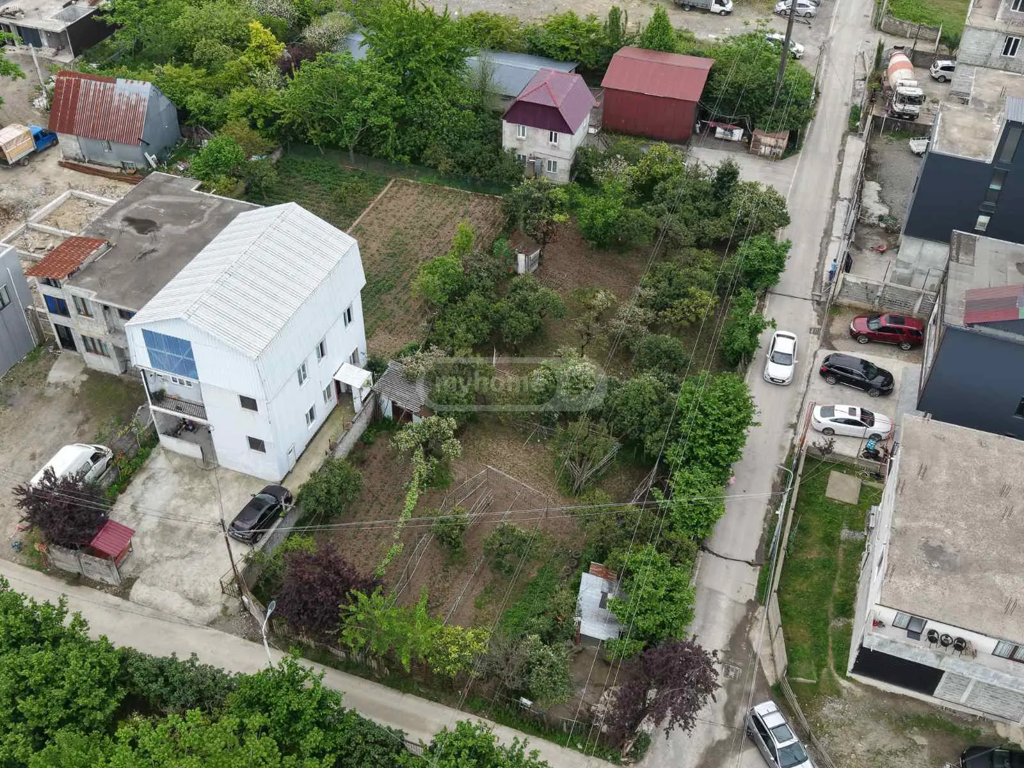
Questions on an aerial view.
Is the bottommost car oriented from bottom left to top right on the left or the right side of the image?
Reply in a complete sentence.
You can find the bottommost car oriented from bottom left to top right on the left side of the picture.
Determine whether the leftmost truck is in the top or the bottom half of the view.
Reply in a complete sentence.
The leftmost truck is in the top half of the image.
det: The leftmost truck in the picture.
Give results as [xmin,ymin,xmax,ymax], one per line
[0,118,56,166]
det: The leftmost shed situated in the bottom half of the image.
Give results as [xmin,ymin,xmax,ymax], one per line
[80,516,133,569]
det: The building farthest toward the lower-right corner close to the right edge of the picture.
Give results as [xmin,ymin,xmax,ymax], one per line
[837,413,1024,736]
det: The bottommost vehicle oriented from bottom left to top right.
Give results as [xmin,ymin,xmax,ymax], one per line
[220,479,295,547]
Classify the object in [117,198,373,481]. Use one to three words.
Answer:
house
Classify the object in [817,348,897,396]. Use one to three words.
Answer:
car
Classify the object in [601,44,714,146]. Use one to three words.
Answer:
barn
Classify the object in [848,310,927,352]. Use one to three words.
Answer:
car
